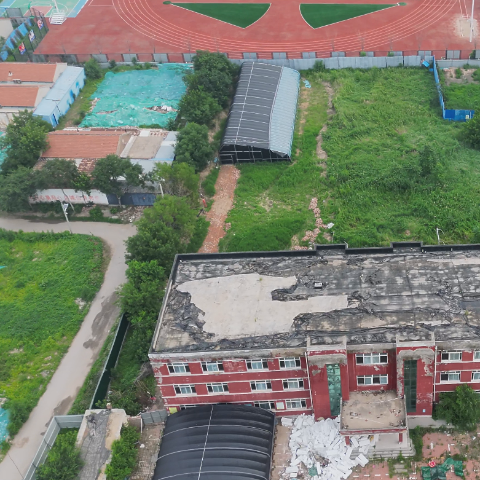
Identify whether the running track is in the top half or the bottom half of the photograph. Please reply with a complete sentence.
The running track sits in the top half of the picture.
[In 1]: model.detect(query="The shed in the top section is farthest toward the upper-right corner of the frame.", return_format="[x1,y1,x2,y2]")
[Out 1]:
[218,55,303,162]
